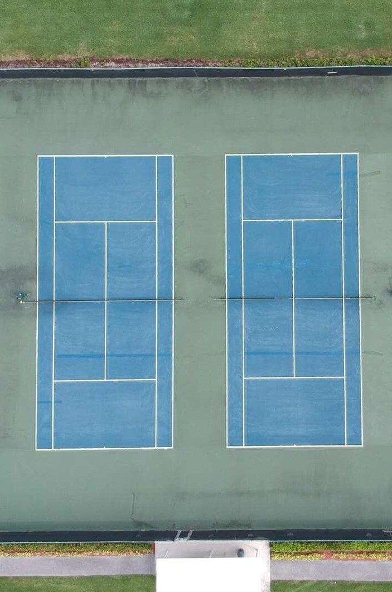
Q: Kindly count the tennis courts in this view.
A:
2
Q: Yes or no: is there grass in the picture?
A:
Yes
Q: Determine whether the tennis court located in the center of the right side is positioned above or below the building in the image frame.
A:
above it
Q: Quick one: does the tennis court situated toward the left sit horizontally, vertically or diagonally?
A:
vertically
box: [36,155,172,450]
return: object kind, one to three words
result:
tennis court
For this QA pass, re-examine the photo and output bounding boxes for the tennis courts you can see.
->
[36,155,172,450]
[224,152,363,448]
